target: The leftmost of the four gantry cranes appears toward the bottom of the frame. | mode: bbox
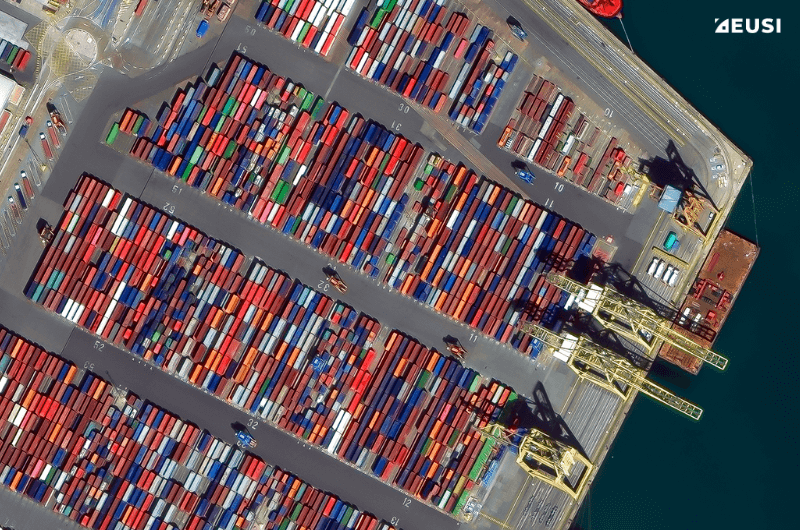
[470,421,594,502]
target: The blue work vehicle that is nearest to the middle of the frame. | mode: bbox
[514,169,537,185]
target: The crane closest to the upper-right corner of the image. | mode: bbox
[646,184,720,240]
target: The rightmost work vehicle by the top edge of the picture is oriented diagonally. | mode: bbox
[509,23,530,41]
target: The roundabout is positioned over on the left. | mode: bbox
[27,16,110,102]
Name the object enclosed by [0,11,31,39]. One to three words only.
building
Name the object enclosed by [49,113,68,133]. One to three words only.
work vehicle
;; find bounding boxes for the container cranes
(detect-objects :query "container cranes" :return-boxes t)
[546,271,731,371]
[521,321,705,422]
[470,421,594,502]
[646,184,720,240]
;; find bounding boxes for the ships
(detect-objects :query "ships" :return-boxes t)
[578,0,622,18]
[660,229,762,376]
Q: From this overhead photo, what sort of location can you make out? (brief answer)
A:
port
